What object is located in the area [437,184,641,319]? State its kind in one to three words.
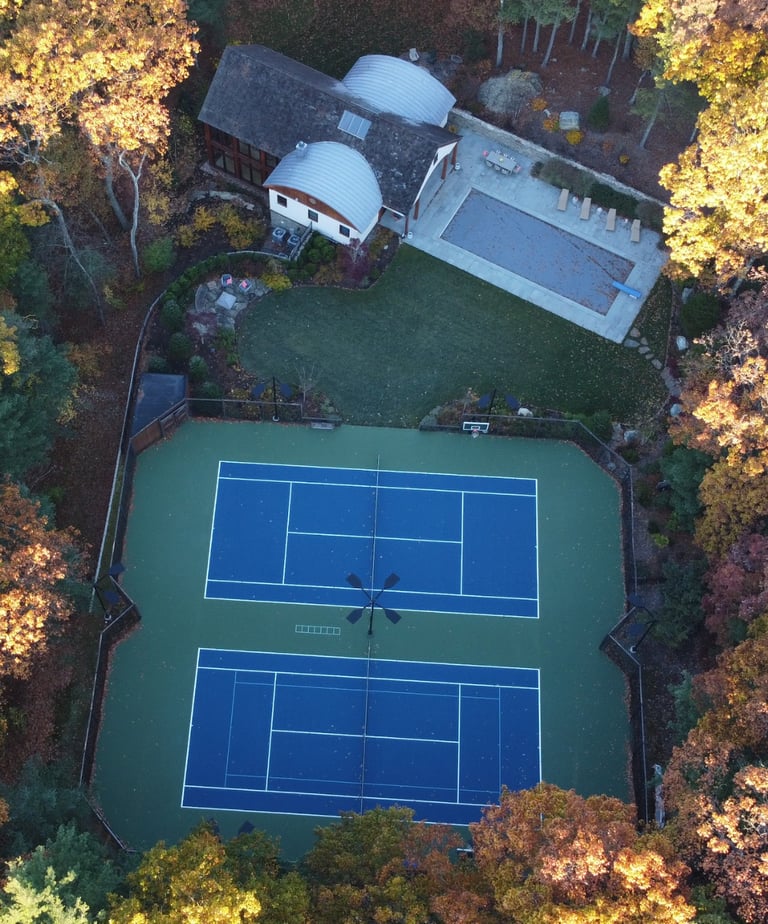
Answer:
swimming pool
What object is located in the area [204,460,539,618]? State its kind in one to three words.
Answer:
tennis court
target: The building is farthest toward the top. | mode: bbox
[199,45,462,248]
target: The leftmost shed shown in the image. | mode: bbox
[130,373,190,457]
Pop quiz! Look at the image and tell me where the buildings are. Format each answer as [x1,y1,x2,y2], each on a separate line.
[199,45,462,248]
[130,373,190,457]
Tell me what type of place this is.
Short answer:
sports ground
